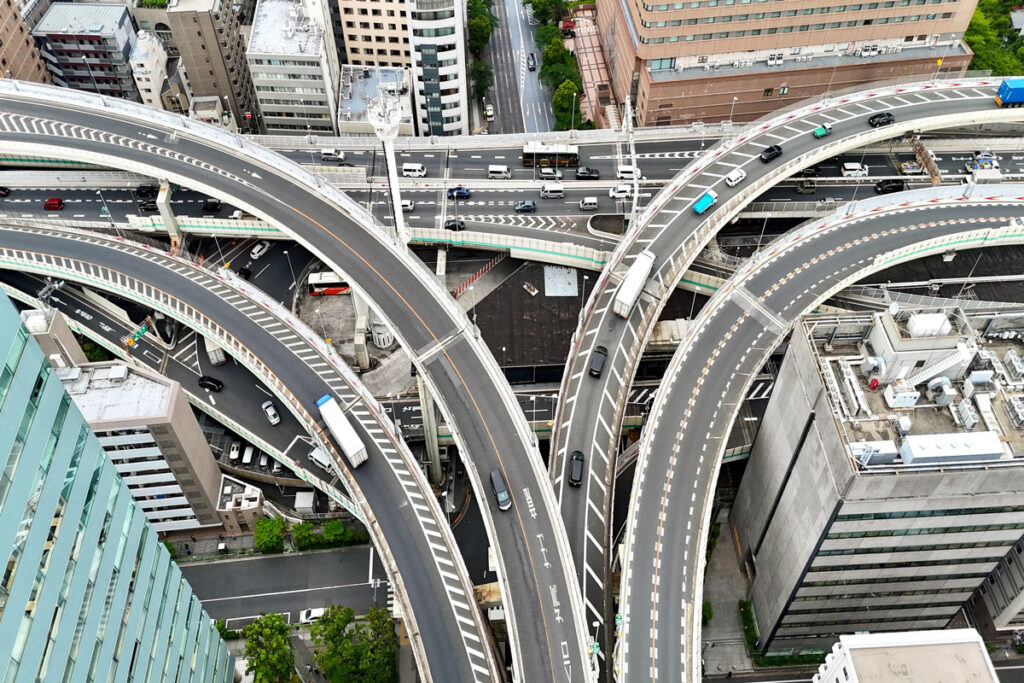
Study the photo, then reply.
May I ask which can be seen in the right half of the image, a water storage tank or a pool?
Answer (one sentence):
There is a water storage tank in the right half of the image.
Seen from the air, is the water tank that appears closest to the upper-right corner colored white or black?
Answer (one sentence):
The water tank that appears closest to the upper-right corner looks white in the image.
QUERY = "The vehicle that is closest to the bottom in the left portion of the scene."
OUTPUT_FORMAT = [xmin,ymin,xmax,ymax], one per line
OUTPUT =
[296,608,329,624]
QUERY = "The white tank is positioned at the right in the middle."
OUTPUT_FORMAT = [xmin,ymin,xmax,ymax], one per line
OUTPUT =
[905,294,971,337]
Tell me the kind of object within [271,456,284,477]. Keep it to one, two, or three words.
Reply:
vehicle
